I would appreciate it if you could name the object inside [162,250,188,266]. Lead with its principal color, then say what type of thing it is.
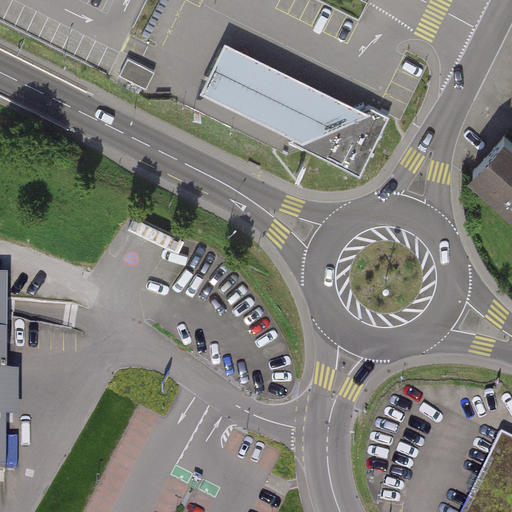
white vehicle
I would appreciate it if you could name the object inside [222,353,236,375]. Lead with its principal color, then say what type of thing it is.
blue vehicle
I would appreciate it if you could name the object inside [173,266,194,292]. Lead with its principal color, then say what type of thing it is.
white vehicle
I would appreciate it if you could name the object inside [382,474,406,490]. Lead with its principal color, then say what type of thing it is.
white car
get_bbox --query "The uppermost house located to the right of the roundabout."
[468,142,512,230]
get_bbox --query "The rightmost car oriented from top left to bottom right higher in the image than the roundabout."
[464,128,485,152]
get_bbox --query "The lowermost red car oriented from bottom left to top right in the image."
[248,316,271,336]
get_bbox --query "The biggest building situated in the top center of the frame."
[200,42,388,178]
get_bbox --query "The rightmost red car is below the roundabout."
[402,384,424,403]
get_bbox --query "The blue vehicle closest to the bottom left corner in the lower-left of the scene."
[6,434,19,468]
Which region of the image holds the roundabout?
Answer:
right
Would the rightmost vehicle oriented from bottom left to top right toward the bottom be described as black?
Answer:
Yes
